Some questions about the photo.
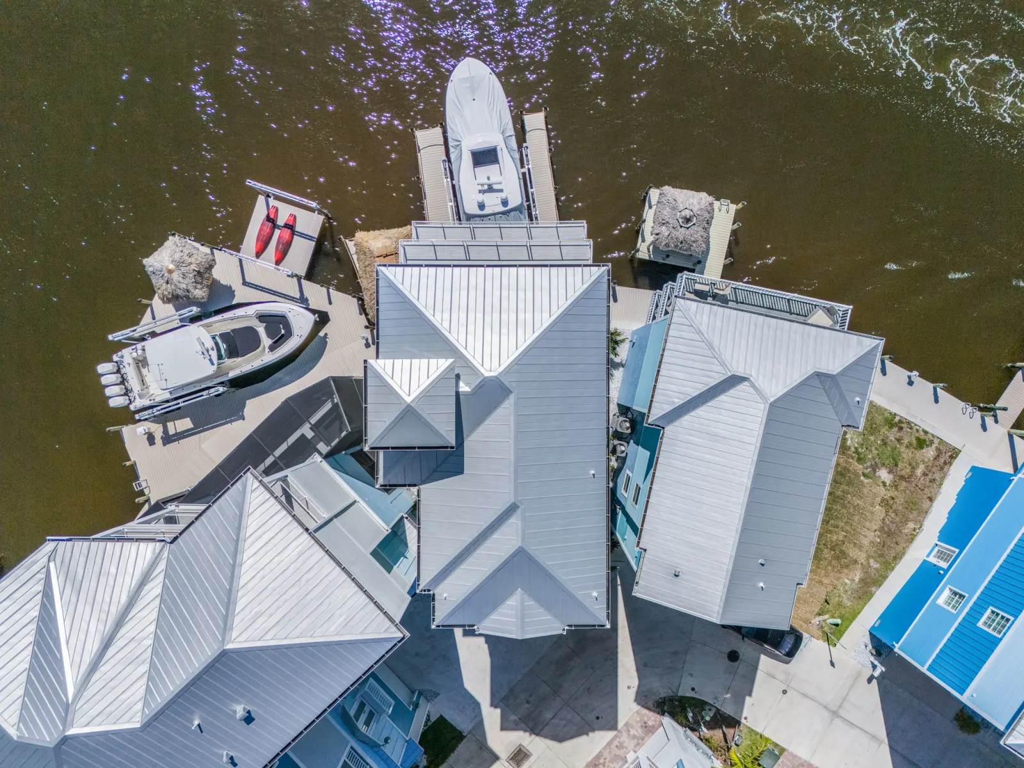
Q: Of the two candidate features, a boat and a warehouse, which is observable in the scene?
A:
boat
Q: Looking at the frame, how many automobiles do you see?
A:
1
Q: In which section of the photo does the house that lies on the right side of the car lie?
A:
bottom right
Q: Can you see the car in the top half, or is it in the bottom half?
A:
bottom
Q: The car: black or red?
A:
black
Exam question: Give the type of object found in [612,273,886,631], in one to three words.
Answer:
house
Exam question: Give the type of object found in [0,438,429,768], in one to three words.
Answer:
house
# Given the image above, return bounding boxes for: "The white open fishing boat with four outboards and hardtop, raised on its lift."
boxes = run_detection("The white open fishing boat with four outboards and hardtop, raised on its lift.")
[98,300,321,409]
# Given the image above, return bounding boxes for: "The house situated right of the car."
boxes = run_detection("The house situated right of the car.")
[869,462,1024,760]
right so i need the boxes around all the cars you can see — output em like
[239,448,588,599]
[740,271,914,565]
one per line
[716,623,801,661]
